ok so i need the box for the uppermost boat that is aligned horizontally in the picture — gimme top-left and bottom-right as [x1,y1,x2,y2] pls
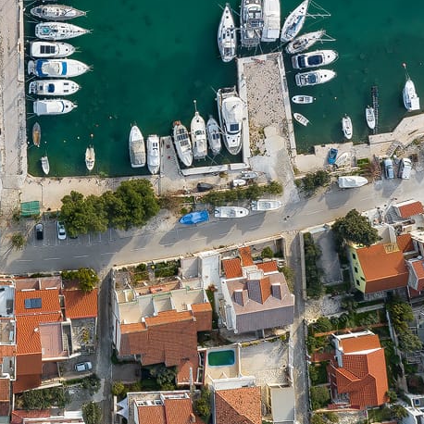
[22,3,87,20]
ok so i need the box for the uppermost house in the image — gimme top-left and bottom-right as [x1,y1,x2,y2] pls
[390,198,424,227]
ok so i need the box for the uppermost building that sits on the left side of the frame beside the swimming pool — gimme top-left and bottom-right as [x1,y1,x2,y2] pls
[115,279,211,392]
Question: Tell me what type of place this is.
residential area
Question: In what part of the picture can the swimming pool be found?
bottom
